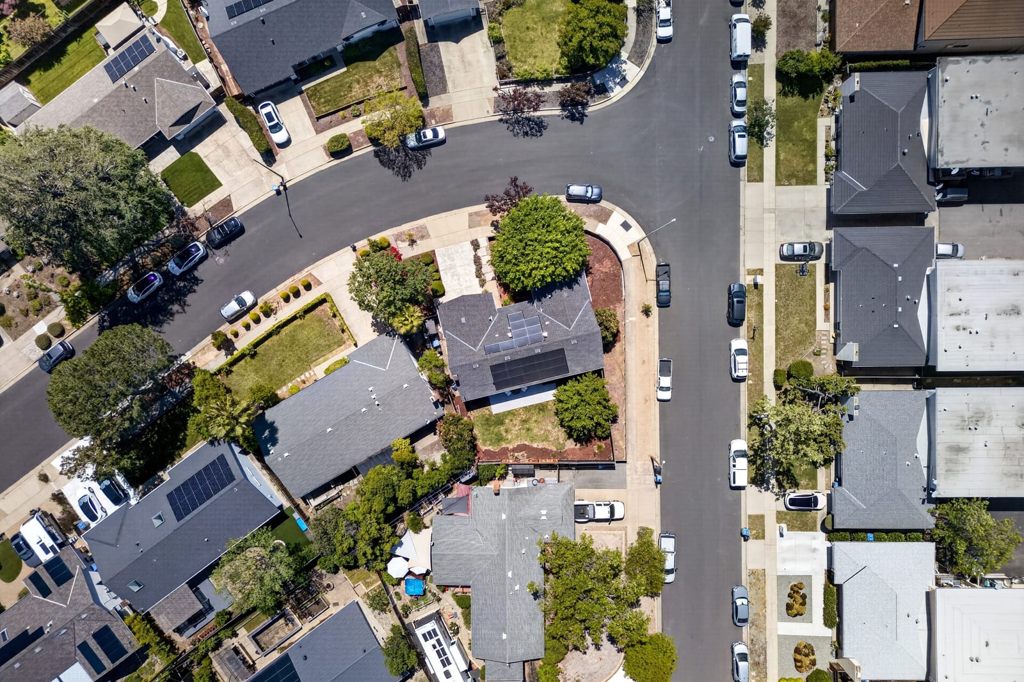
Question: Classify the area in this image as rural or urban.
urban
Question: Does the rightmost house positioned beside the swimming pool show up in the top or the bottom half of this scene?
bottom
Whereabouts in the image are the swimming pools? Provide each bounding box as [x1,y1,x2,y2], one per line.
[404,579,423,598]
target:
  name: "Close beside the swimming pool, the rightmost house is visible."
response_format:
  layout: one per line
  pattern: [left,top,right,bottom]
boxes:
[430,479,575,665]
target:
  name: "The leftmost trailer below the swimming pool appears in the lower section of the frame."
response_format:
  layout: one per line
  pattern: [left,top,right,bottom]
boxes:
[411,599,469,682]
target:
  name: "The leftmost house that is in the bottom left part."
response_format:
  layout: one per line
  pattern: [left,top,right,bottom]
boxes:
[0,544,144,682]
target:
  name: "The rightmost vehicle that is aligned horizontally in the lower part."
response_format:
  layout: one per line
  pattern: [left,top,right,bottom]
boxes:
[782,492,825,513]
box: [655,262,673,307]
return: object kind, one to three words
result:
vehicle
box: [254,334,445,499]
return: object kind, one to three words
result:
house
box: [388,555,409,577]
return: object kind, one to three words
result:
umbrella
